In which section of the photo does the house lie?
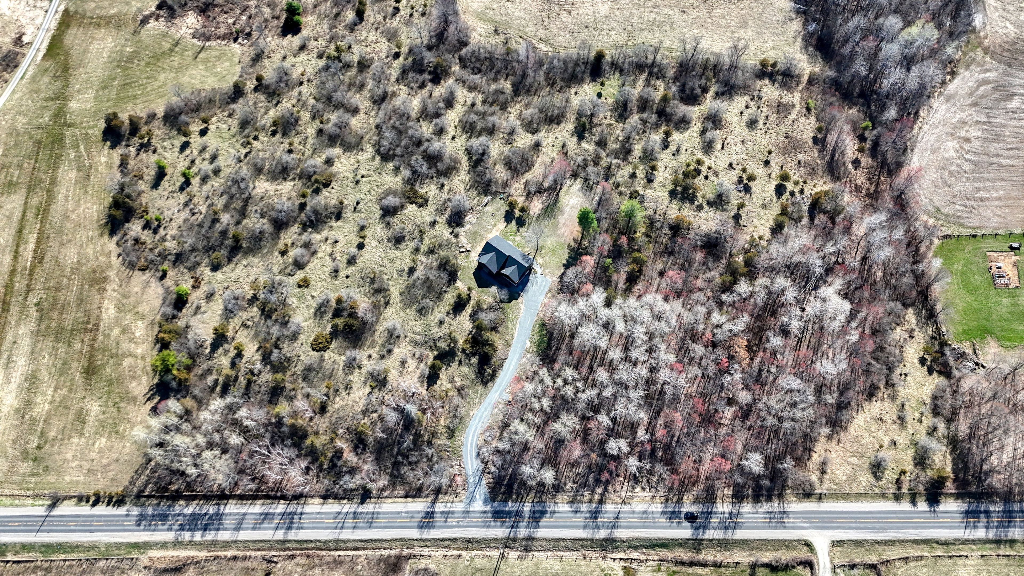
center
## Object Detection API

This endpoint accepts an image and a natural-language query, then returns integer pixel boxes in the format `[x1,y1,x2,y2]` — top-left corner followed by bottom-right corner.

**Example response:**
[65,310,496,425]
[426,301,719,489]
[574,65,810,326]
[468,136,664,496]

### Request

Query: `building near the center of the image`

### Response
[474,235,535,287]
